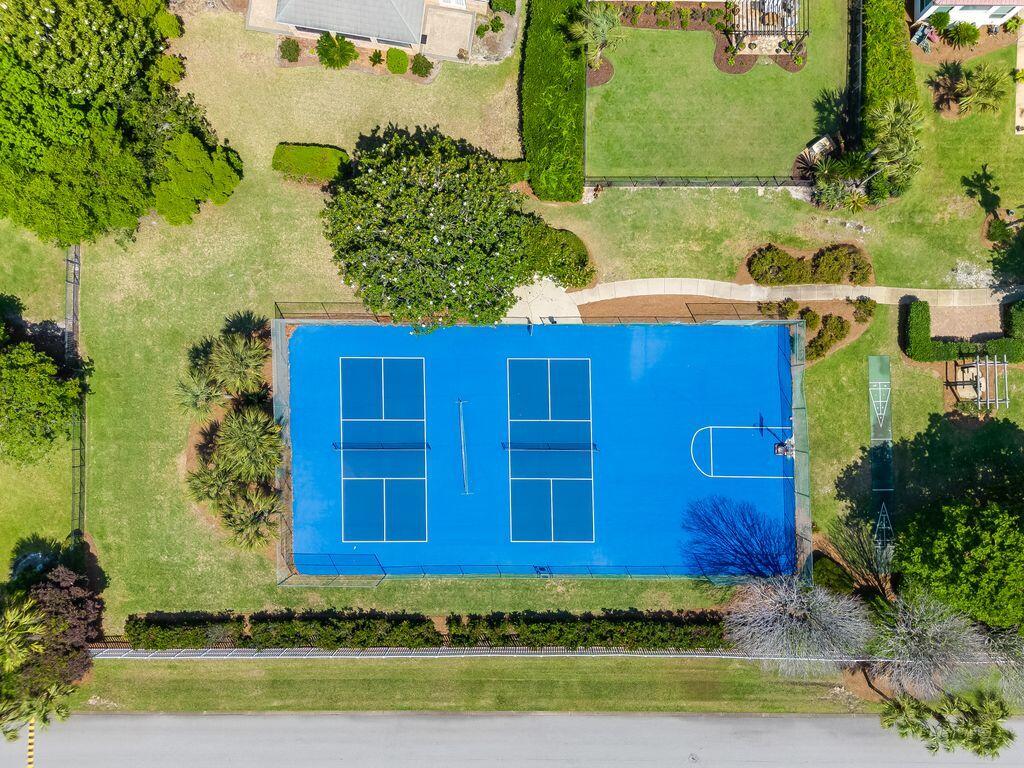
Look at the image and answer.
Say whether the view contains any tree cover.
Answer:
Yes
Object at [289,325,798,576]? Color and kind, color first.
blue sports court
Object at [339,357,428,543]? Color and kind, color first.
blue sports court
